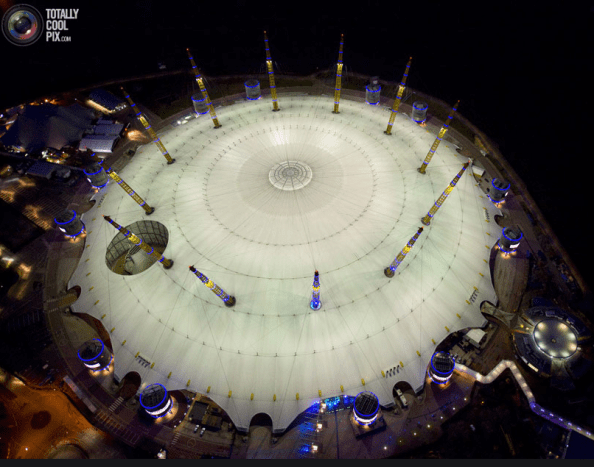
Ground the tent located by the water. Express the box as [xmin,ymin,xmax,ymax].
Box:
[0,100,94,164]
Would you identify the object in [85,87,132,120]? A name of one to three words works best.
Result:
shed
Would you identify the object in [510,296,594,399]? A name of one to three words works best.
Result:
building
